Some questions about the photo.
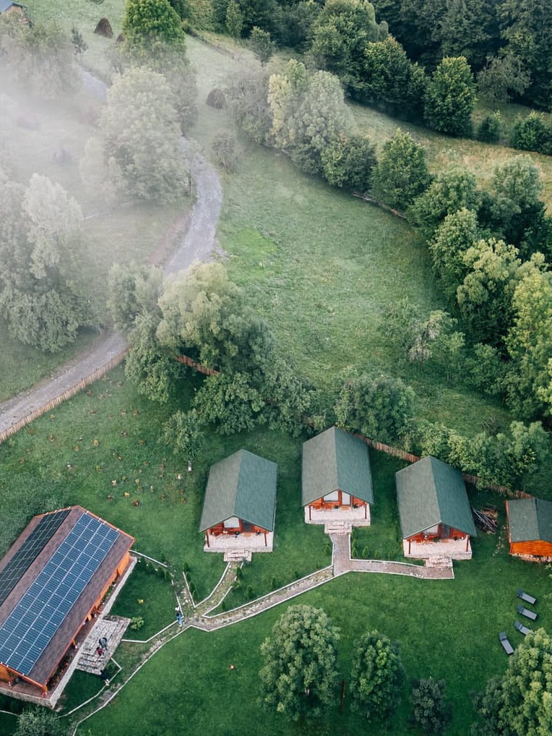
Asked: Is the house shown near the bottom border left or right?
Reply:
left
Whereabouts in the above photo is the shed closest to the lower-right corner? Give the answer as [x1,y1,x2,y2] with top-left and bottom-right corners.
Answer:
[506,497,552,558]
